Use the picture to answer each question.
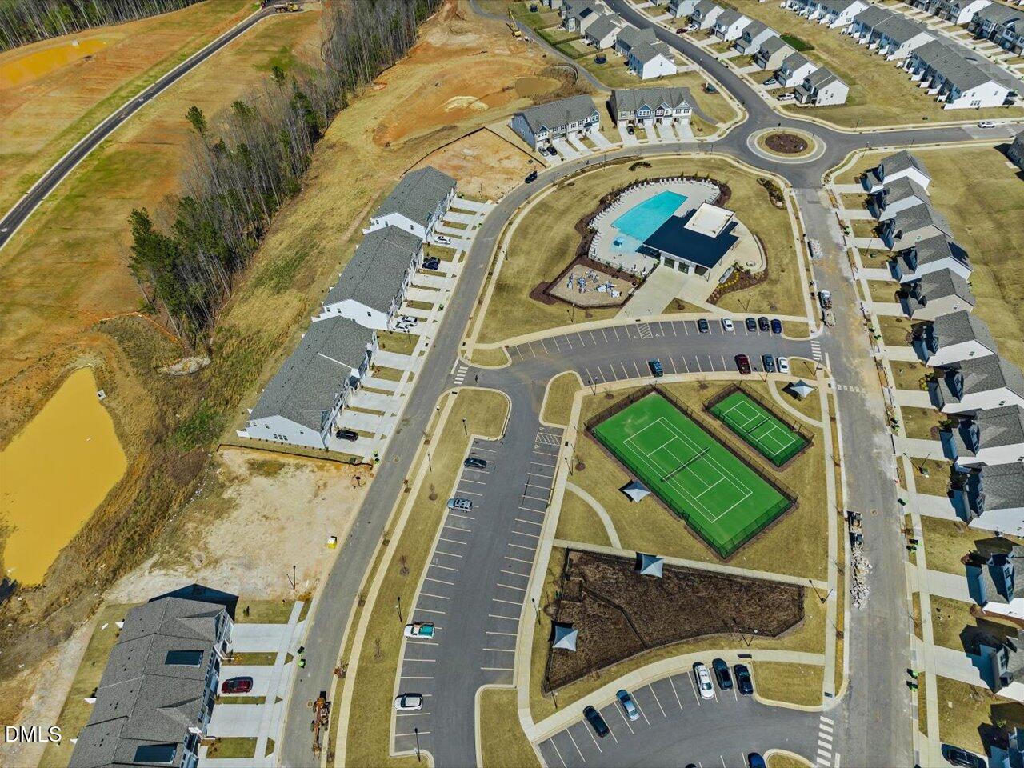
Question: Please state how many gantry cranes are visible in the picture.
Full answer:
The count of gantry cranes is 0.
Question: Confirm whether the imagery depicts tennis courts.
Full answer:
Yes, a tennis court can be made out from above.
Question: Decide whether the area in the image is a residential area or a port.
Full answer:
The picture captures a residential area.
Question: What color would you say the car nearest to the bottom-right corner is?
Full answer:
The car nearest to the bottom-right corner looks black in the image.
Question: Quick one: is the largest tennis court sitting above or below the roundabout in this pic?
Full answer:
In the image, the largest tennis court appears below the roundabout.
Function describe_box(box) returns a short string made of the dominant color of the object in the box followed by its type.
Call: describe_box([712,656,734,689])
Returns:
black car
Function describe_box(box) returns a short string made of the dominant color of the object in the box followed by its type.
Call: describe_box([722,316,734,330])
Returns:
white vehicle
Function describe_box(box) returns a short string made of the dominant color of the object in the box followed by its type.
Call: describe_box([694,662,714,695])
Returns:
white car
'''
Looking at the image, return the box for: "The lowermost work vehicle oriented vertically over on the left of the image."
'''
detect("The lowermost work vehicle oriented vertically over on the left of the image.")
[307,686,330,758]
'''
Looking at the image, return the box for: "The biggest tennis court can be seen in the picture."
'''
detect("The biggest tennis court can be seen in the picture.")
[595,393,790,549]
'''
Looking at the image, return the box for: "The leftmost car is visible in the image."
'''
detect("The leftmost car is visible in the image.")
[220,675,252,692]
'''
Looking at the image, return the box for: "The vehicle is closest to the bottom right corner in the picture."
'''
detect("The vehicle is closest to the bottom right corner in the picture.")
[948,741,985,768]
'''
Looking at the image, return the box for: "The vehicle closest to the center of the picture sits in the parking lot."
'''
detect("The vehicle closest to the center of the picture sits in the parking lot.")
[463,454,488,467]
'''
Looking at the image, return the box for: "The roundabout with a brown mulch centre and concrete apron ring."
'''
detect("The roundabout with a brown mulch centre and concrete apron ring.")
[747,127,828,165]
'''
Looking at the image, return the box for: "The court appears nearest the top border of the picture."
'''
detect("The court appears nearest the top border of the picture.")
[715,392,805,458]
